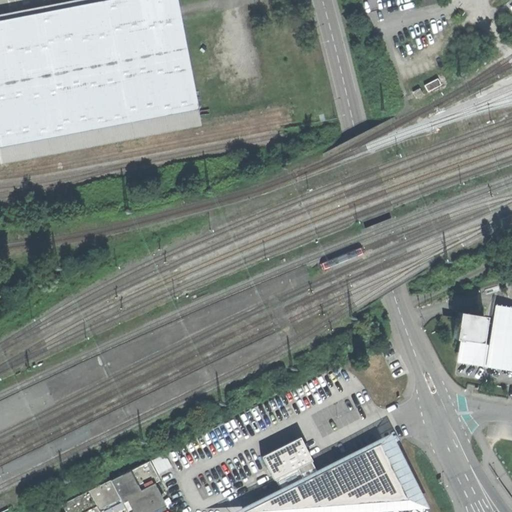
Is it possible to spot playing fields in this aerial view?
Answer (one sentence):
No, the photo shows no playing field.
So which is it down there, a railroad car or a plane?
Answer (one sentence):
The one in the frame is a railroad car.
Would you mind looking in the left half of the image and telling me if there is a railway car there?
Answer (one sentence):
No, I can find no railway car in the left half of the image.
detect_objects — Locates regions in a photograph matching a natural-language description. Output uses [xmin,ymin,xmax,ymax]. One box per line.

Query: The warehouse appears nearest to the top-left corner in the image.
[0,0,209,166]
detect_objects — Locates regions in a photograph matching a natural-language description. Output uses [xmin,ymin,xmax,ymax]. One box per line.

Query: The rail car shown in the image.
[320,246,364,271]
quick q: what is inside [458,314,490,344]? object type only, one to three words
building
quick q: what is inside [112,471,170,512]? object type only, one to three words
building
